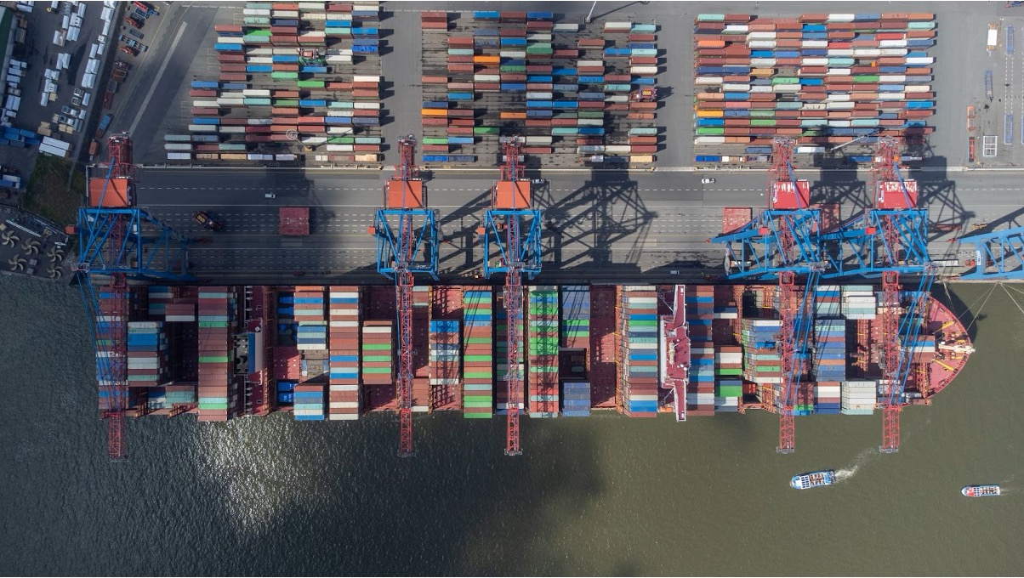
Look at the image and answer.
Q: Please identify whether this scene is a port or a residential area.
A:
port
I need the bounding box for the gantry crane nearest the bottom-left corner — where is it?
[64,130,207,460]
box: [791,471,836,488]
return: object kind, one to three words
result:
boat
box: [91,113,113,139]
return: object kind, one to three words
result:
truck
